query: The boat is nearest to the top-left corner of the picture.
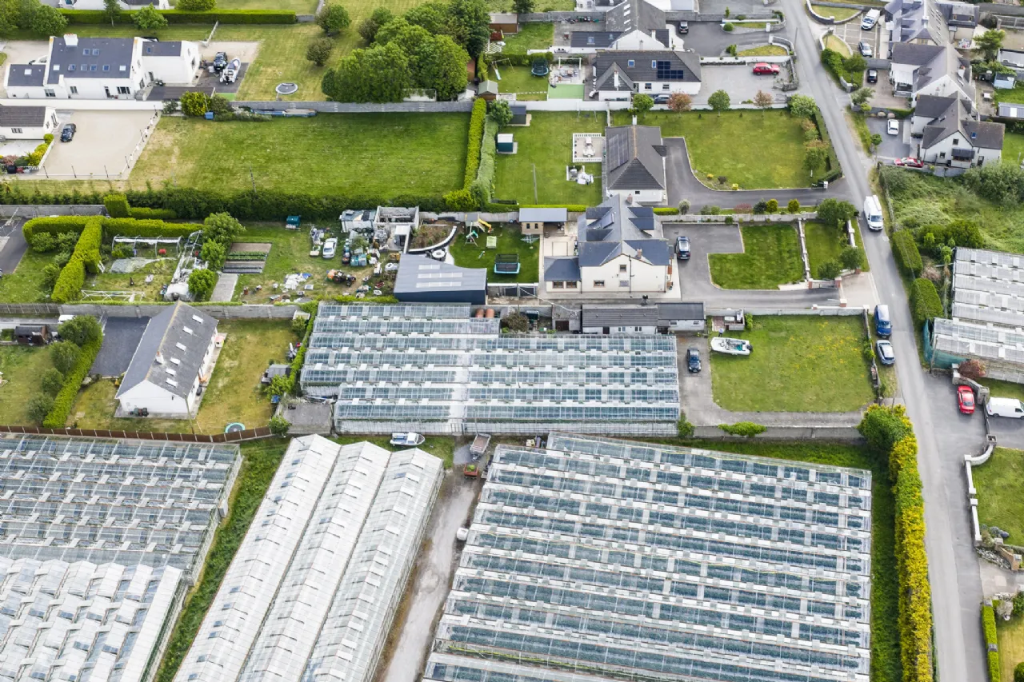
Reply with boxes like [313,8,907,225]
[222,58,238,81]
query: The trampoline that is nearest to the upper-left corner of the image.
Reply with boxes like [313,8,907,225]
[275,82,298,94]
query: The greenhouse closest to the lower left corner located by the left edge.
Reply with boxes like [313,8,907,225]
[0,551,188,682]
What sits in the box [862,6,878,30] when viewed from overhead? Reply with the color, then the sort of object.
white vehicle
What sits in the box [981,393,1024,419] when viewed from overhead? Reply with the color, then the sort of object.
white vehicle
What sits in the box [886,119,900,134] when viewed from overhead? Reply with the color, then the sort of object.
white car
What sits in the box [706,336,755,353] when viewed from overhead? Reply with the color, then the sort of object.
white boat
